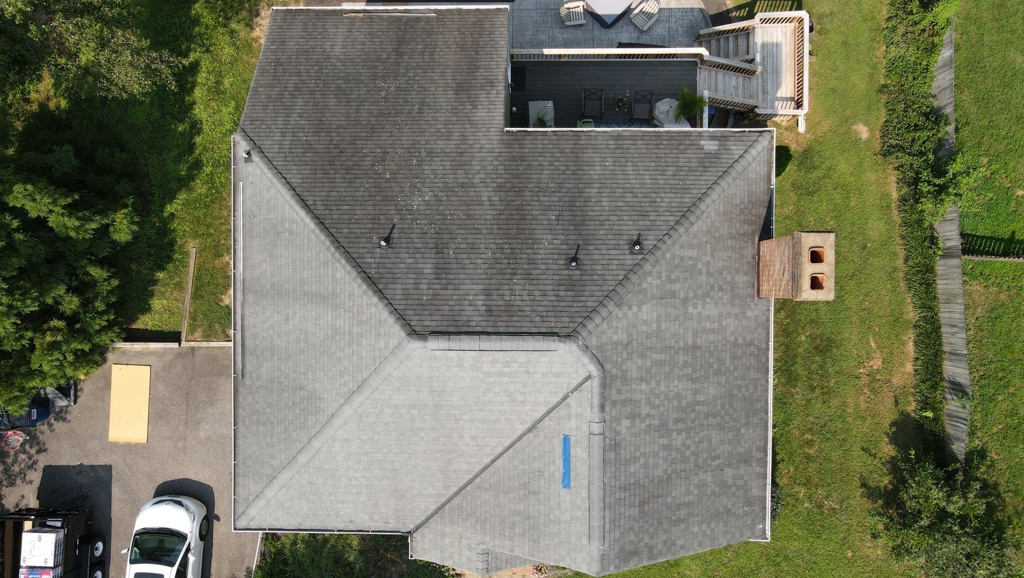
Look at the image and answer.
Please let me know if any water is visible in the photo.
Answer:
No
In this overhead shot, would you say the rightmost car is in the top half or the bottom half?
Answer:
bottom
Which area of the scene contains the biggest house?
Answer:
center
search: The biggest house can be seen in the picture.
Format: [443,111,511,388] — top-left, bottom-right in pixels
[232,4,838,577]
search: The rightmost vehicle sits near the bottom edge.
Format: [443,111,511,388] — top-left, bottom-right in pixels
[124,490,204,578]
